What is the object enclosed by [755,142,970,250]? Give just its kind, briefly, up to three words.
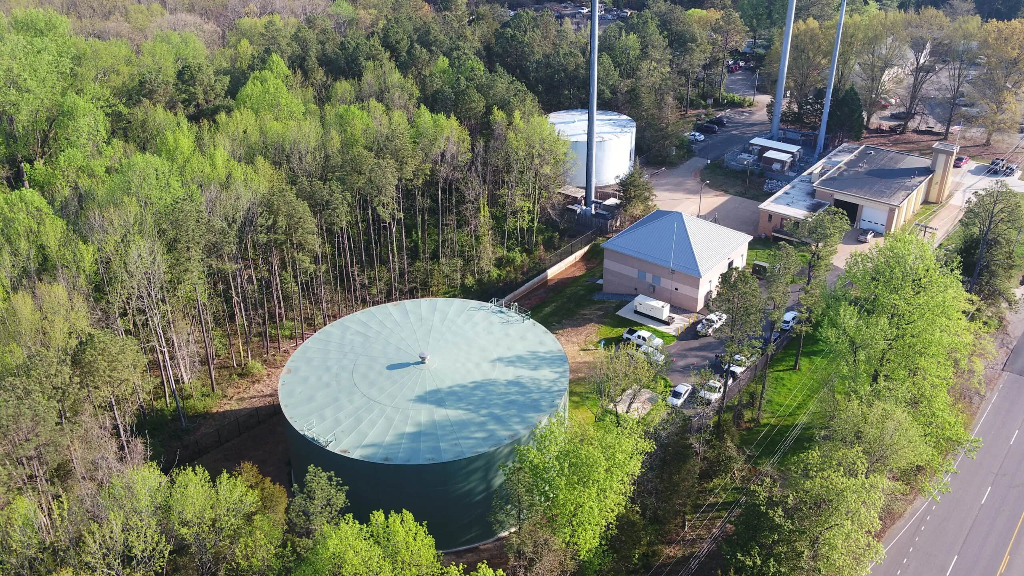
building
